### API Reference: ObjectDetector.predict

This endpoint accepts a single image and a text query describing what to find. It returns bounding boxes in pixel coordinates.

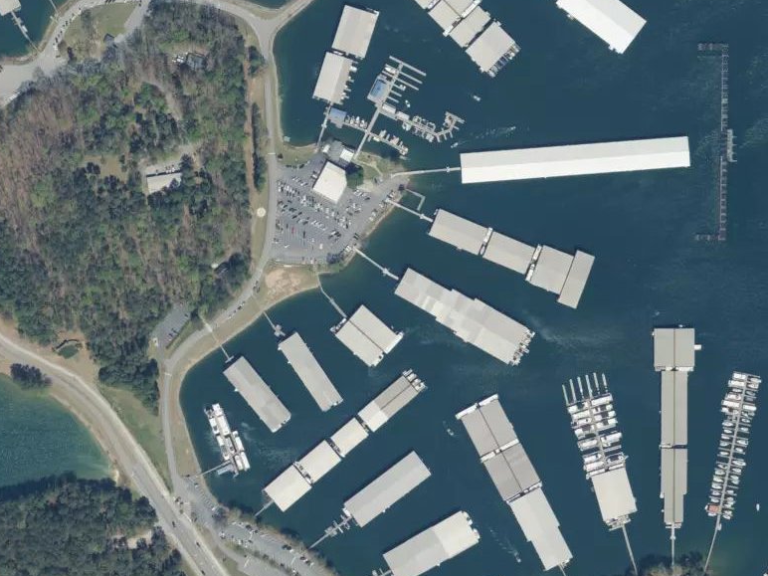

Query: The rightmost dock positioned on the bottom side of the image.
[704,371,760,573]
